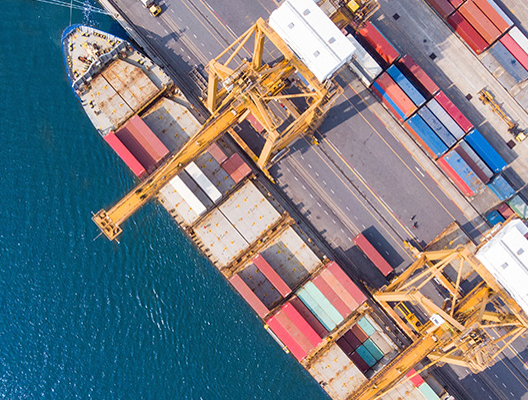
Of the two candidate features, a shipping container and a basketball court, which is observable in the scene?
shipping container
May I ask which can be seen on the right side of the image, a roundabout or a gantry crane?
gantry crane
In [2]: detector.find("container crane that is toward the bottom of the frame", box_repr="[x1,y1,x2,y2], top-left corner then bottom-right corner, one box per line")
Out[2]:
[345,212,528,400]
